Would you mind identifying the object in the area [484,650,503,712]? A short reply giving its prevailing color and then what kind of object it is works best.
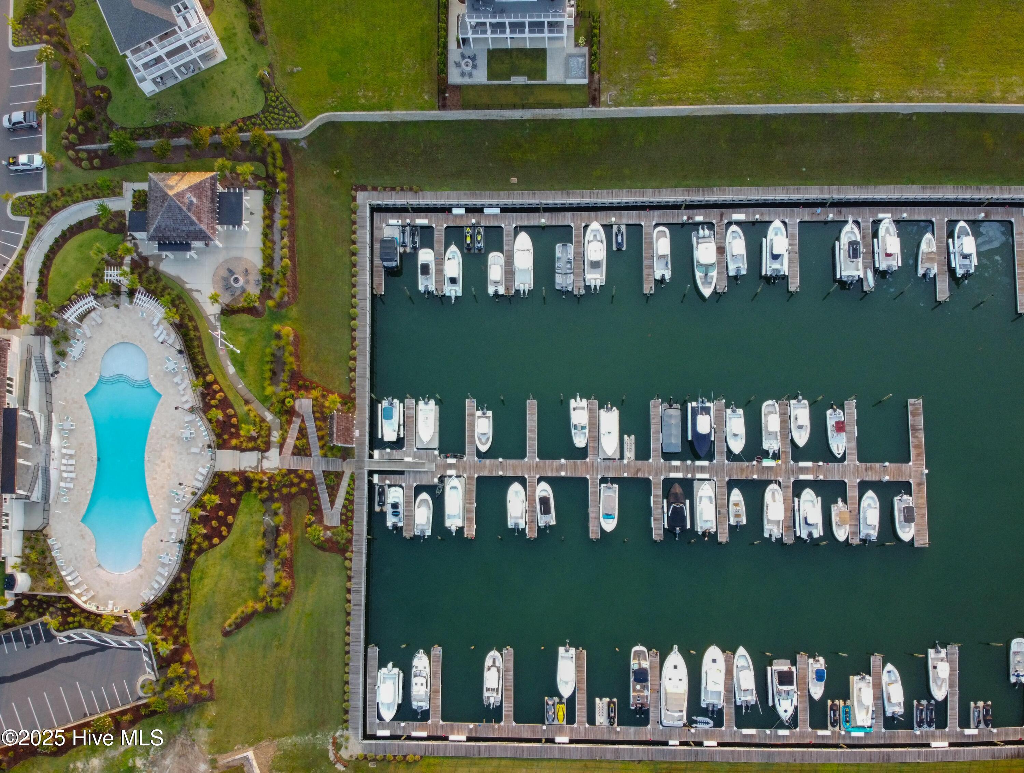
white boat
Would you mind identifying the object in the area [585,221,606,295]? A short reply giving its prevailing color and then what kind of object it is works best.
white boat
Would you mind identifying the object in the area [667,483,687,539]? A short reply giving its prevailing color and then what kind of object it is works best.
black boat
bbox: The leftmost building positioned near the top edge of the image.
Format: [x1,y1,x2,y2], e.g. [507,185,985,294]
[94,0,230,97]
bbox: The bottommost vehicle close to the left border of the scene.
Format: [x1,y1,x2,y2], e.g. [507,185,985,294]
[1,152,44,171]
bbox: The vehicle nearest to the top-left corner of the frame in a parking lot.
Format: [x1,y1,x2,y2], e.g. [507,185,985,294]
[2,110,37,130]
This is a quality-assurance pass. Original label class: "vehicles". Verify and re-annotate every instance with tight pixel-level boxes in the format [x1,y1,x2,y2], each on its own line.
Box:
[1,152,44,171]
[2,110,37,130]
